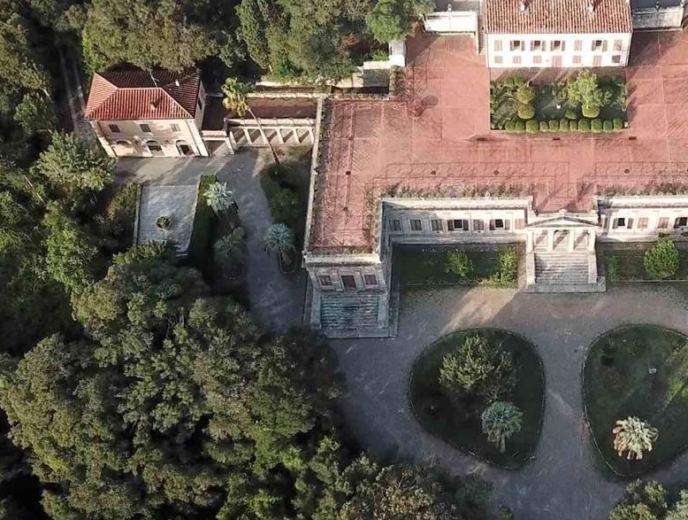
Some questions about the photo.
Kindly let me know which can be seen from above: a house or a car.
house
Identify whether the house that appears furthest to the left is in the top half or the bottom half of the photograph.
top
